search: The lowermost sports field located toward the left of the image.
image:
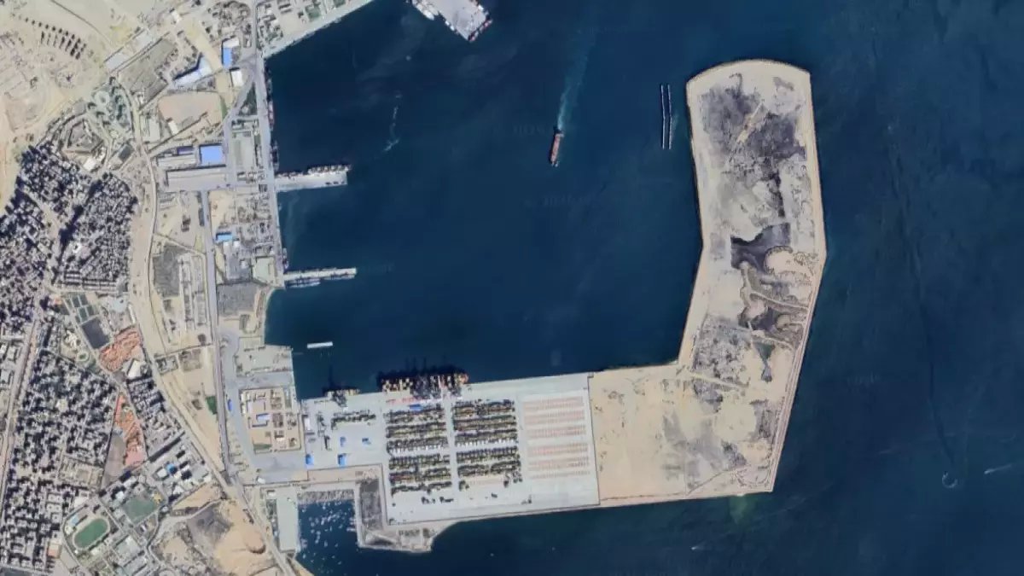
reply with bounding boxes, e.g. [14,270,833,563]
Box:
[74,517,109,548]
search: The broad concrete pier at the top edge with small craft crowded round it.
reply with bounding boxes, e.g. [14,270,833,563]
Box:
[414,0,489,39]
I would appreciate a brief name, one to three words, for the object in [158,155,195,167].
building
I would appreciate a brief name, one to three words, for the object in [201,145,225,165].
building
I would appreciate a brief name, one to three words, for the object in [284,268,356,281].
pier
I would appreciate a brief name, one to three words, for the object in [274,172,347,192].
pier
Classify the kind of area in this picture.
port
